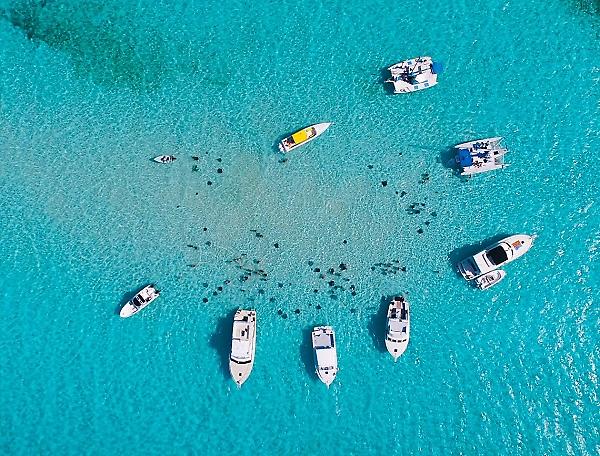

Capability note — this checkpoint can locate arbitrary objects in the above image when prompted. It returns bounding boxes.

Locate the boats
[384,55,439,94]
[453,139,510,173]
[313,325,338,388]
[475,272,506,290]
[455,236,537,280]
[278,122,332,153]
[387,297,409,361]
[231,308,257,387]
[120,284,161,318]
[154,155,175,163]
